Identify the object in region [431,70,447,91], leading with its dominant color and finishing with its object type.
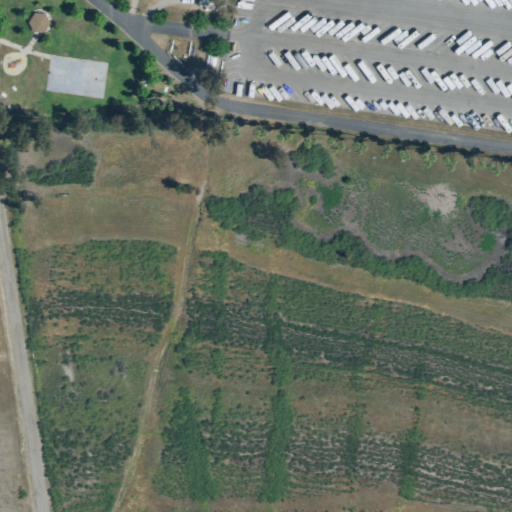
white camper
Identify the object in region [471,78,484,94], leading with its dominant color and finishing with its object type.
white vehicle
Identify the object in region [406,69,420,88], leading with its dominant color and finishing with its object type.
white camper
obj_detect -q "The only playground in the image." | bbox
[2,52,28,76]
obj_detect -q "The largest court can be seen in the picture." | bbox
[47,56,108,98]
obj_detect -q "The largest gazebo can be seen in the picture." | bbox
[29,10,53,33]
